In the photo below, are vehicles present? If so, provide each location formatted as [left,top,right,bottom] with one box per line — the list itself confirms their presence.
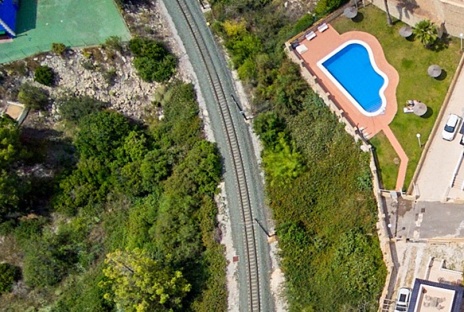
[393,286,411,312]
[442,111,461,139]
